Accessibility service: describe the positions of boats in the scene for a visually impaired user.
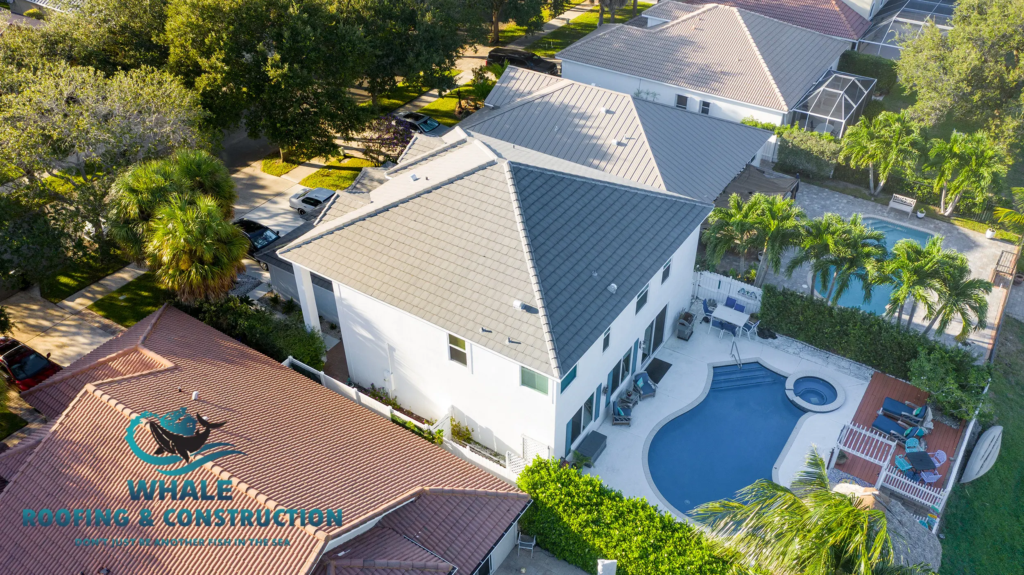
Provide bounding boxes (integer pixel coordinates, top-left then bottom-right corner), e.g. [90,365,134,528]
[962,424,1010,485]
